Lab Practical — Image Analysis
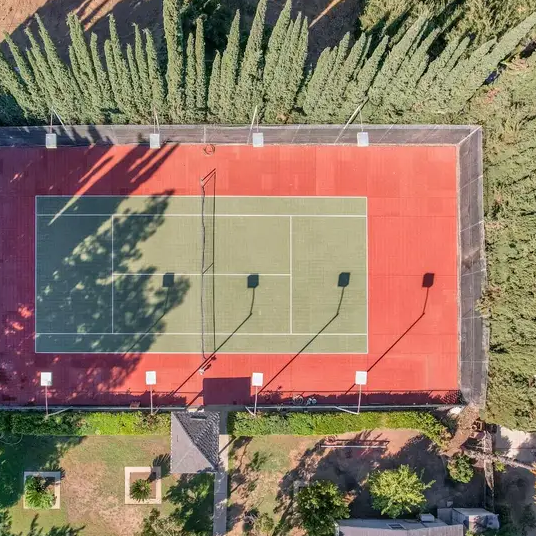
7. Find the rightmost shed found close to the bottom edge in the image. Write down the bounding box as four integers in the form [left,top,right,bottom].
[443,502,498,528]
